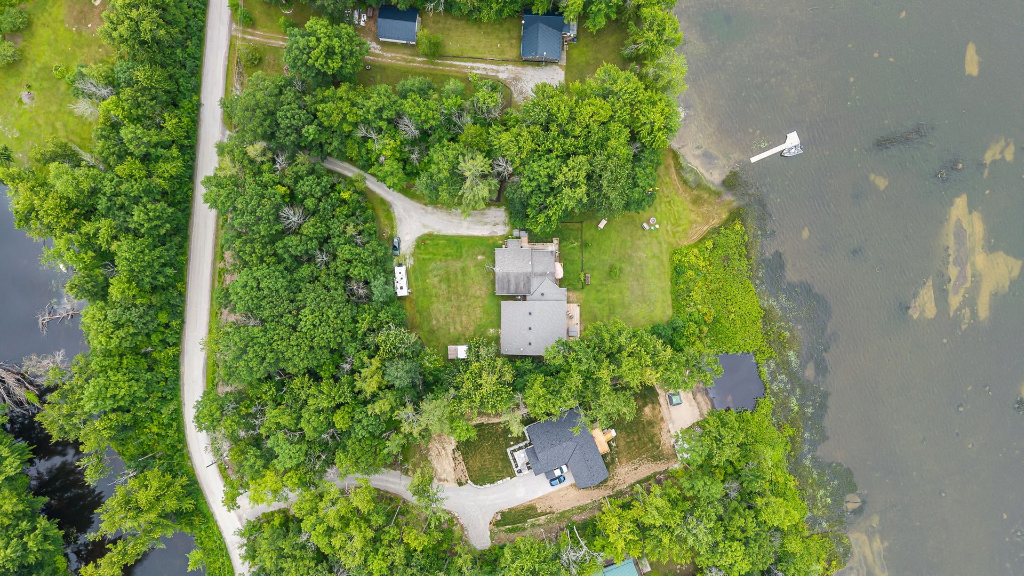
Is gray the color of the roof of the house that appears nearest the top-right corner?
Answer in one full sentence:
No, the roof of the house that appears nearest the top-right corner is actually blue.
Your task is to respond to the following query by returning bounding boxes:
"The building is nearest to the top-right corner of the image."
[522,7,578,61]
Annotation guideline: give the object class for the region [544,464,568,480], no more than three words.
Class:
vehicle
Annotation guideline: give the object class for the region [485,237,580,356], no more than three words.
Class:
house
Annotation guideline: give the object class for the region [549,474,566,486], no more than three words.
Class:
vehicle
